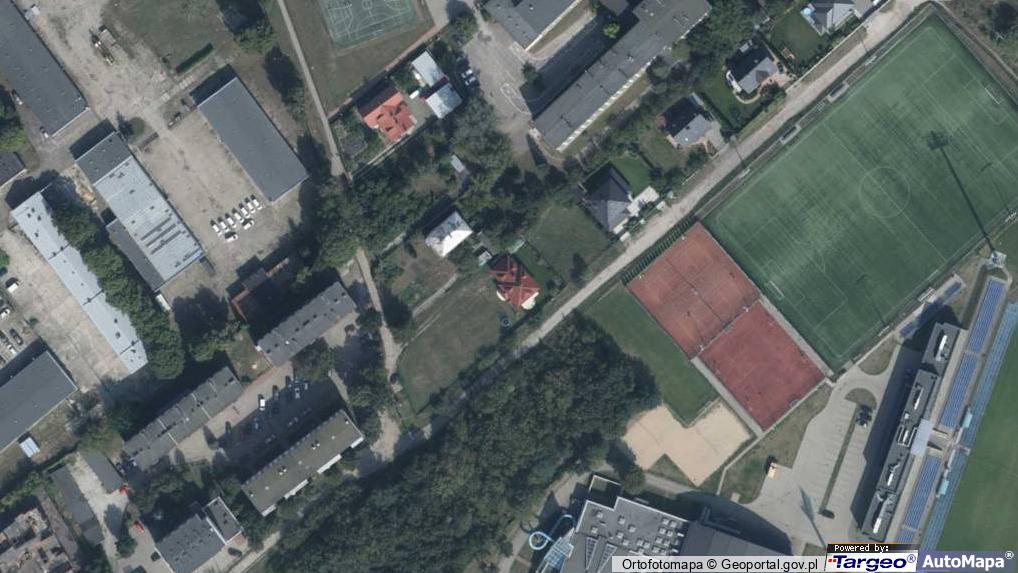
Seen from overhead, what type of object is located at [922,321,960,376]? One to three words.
building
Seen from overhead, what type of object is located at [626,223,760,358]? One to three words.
tennis court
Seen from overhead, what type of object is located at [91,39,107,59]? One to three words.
vehicle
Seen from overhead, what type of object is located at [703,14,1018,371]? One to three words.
soccer field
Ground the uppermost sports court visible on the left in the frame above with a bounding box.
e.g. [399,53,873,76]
[318,0,419,49]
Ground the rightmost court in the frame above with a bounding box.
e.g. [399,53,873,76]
[700,300,825,430]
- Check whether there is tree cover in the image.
Yes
